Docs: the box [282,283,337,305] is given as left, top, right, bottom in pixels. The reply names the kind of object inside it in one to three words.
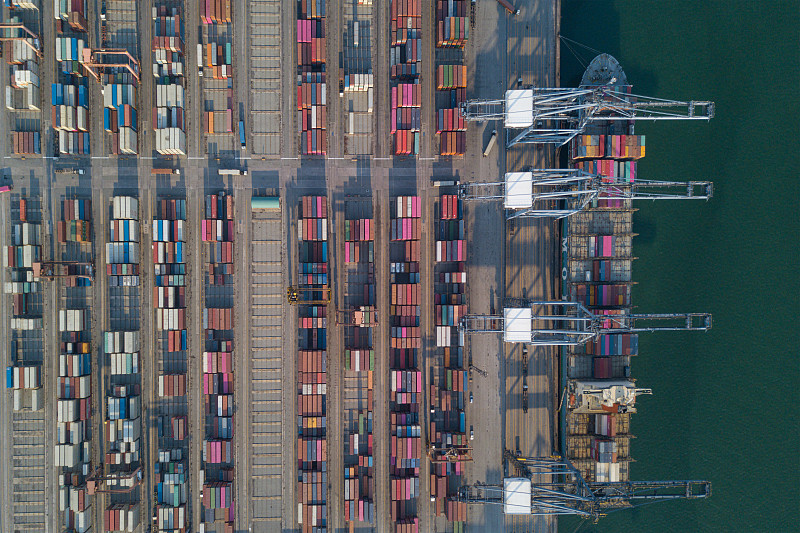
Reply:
container crane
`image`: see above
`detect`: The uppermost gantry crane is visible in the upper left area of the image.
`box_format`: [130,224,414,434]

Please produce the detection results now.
[0,23,48,57]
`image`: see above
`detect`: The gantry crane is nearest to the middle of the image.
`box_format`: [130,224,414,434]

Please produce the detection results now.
[333,304,383,326]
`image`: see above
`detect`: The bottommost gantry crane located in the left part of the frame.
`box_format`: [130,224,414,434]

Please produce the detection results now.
[81,461,148,493]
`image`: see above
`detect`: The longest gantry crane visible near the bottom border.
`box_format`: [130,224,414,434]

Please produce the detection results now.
[460,431,715,527]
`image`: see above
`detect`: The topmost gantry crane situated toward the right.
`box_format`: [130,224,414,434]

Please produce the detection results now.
[460,84,717,162]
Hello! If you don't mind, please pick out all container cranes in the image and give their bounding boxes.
[80,49,146,80]
[460,166,716,231]
[0,23,48,57]
[282,283,337,305]
[28,259,99,281]
[460,84,717,162]
[460,431,715,527]
[428,433,478,463]
[81,461,148,493]
[460,285,716,346]
[333,304,383,326]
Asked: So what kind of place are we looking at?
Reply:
port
